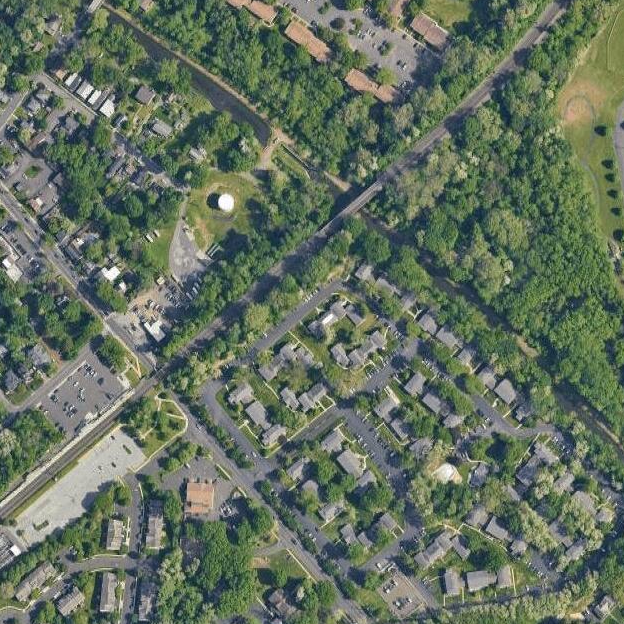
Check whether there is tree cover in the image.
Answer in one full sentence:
Yes, the picture does contain tree cover.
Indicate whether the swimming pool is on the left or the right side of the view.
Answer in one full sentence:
It is on the right.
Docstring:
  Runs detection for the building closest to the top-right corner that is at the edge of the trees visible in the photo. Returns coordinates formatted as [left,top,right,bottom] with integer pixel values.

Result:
[410,14,450,50]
